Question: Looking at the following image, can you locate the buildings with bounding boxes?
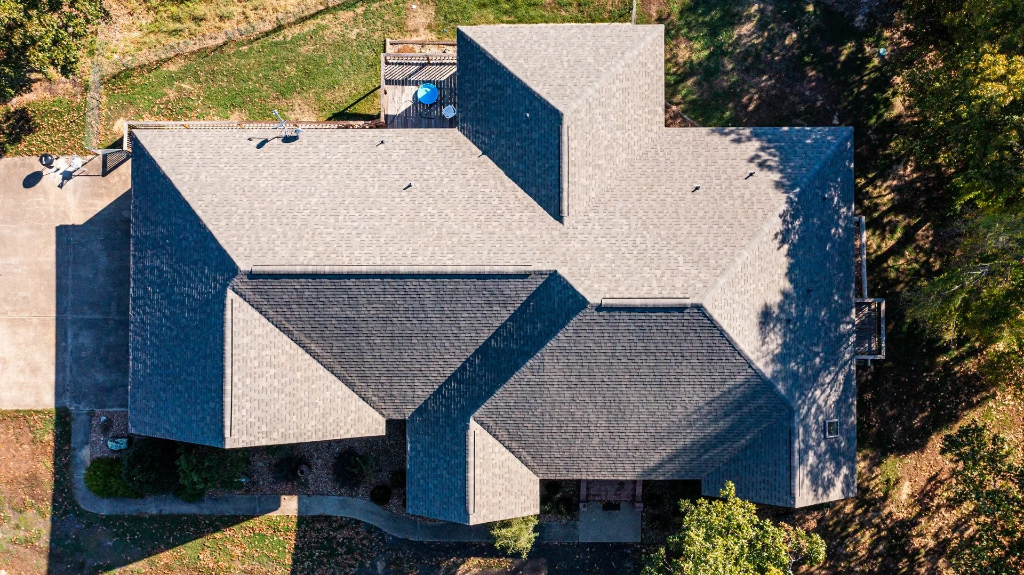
[129,23,857,525]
